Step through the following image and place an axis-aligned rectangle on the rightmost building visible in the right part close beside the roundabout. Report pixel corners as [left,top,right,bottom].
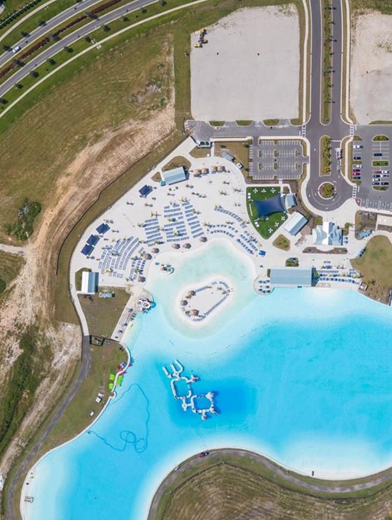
[312,221,343,245]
